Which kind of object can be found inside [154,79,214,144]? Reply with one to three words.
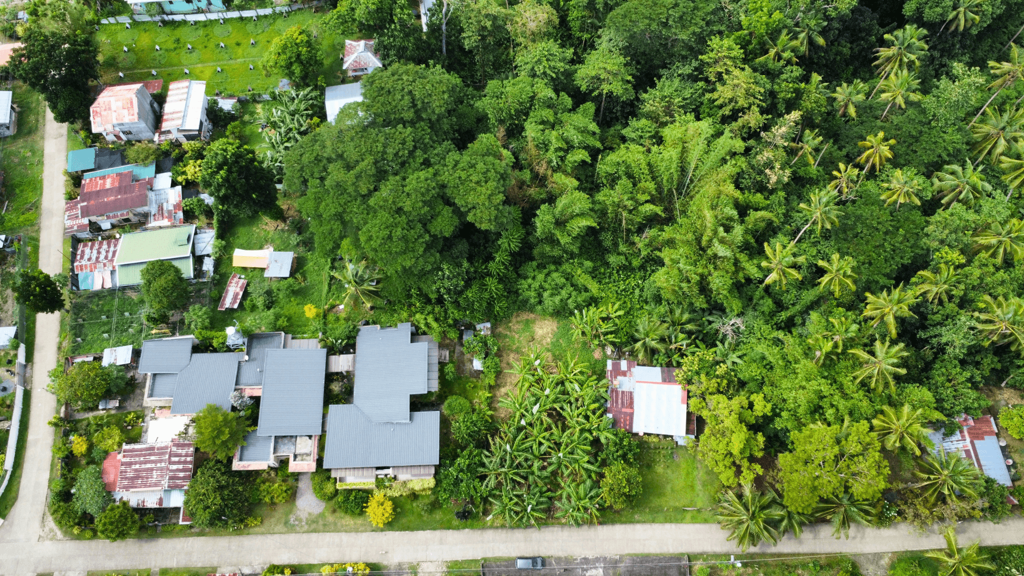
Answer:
house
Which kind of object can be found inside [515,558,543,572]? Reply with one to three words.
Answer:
car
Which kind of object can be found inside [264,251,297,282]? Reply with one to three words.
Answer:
shed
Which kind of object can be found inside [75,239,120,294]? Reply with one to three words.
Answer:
building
